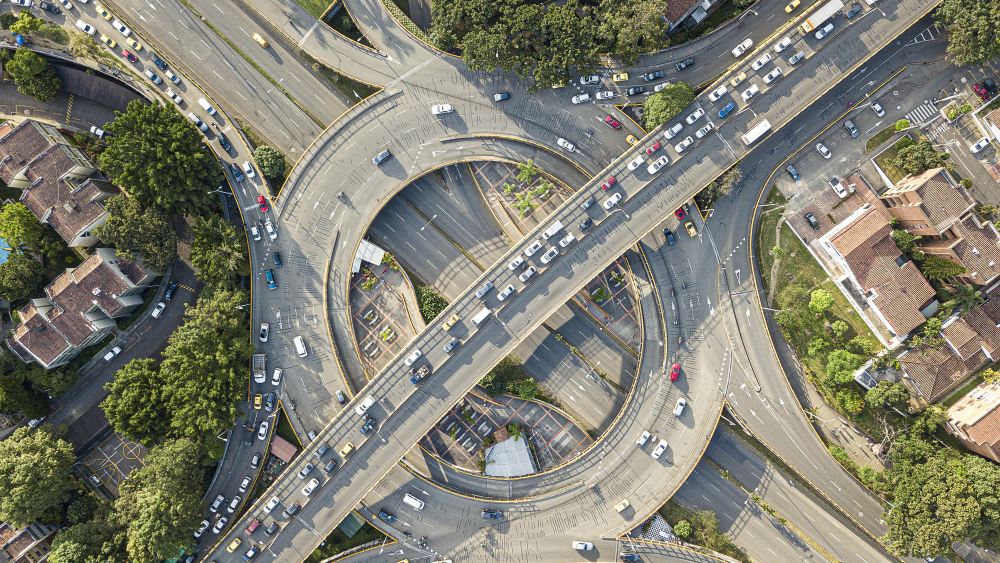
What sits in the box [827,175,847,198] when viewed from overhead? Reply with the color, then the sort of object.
white vehicle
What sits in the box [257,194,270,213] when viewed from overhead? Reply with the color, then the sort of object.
red vehicle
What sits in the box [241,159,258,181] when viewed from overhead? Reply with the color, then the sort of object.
white car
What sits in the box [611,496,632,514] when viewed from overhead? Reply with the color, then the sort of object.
white vehicle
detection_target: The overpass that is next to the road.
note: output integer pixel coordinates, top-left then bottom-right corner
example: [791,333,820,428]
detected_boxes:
[201,0,941,563]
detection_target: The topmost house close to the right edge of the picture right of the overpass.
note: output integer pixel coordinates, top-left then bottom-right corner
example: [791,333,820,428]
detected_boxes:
[969,103,1000,154]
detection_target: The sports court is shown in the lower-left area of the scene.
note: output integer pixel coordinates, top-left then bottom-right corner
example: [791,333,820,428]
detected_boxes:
[82,401,175,499]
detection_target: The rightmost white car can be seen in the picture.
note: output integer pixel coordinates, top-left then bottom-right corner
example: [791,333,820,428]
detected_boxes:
[968,139,987,154]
